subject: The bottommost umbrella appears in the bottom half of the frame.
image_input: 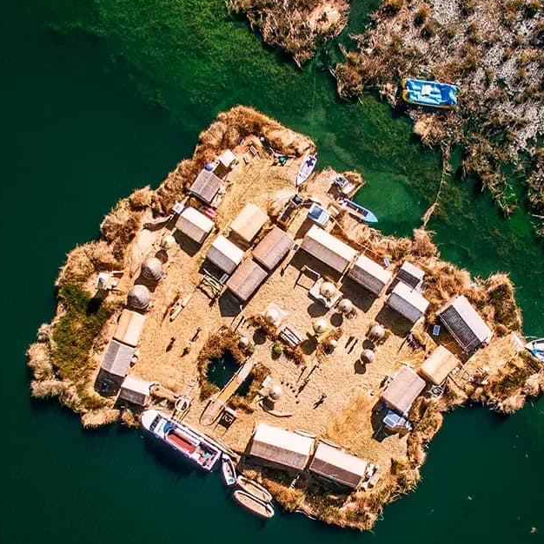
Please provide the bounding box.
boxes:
[270,384,283,398]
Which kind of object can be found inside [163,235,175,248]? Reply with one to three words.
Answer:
umbrella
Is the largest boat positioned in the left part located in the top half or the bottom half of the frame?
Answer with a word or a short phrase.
bottom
